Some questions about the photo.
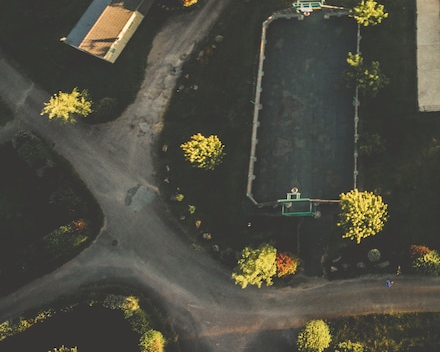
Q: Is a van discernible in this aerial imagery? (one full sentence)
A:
No, there's no van here.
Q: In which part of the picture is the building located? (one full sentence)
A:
The building appears toward the top left of the photo.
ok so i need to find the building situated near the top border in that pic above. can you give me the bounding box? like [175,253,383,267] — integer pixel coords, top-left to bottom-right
[64,0,158,63]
